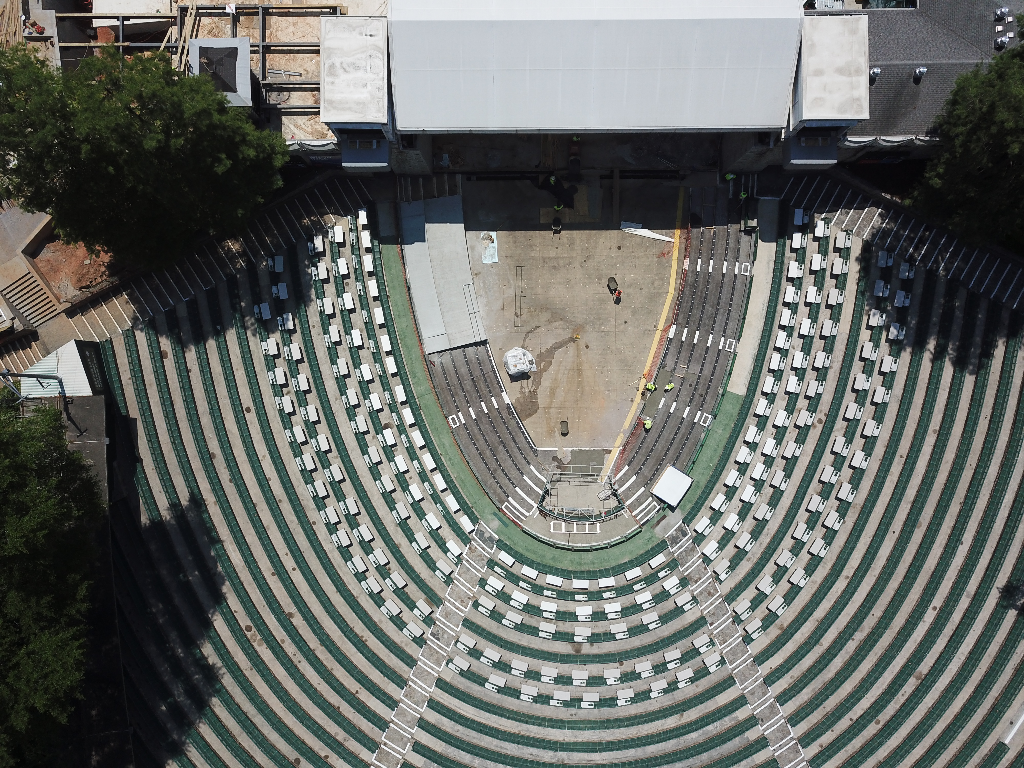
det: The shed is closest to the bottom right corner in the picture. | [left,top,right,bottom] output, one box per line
[646,463,694,507]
